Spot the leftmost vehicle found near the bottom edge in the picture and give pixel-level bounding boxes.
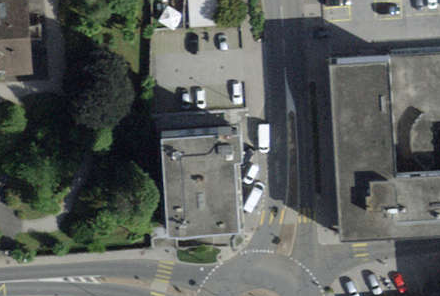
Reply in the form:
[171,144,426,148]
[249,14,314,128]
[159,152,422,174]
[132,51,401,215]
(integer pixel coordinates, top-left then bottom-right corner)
[345,278,359,296]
